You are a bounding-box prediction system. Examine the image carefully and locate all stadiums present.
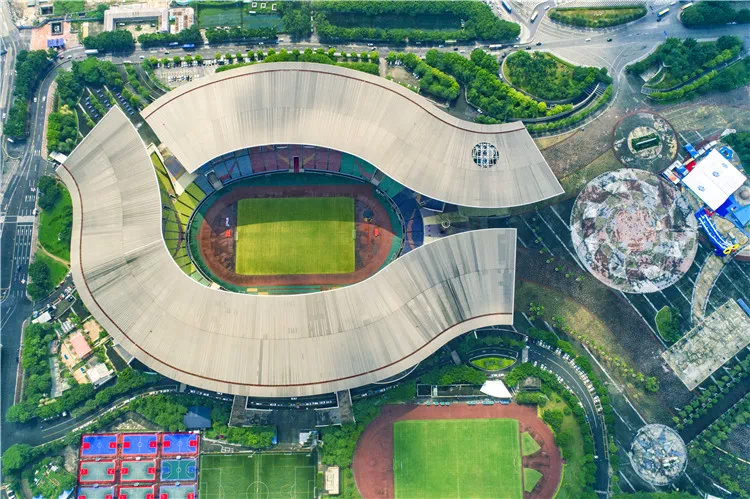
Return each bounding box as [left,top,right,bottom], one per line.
[56,62,565,397]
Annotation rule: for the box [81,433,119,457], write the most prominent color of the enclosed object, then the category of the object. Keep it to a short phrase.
blue basketball court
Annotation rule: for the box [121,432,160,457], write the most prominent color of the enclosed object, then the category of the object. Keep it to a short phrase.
blue basketball court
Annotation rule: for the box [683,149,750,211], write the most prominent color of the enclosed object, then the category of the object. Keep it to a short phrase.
white tent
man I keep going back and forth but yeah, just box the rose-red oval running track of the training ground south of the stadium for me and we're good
[352,403,565,499]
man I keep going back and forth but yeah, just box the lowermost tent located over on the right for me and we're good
[480,380,513,399]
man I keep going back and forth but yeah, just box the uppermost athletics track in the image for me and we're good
[198,185,393,287]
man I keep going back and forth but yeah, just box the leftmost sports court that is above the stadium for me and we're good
[198,7,242,29]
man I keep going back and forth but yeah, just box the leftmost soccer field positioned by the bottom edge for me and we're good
[199,453,317,499]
